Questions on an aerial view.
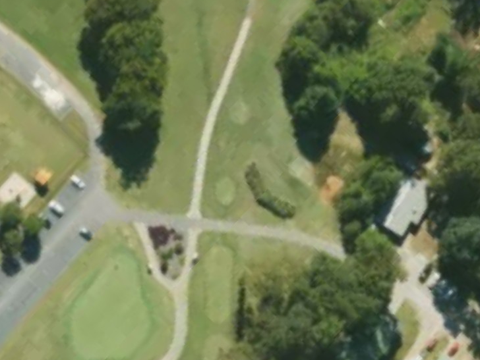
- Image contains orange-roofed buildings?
No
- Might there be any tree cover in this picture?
Yes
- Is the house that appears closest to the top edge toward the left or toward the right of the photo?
right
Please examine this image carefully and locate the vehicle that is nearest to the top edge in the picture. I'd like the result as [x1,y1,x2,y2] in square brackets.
[70,175,85,189]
